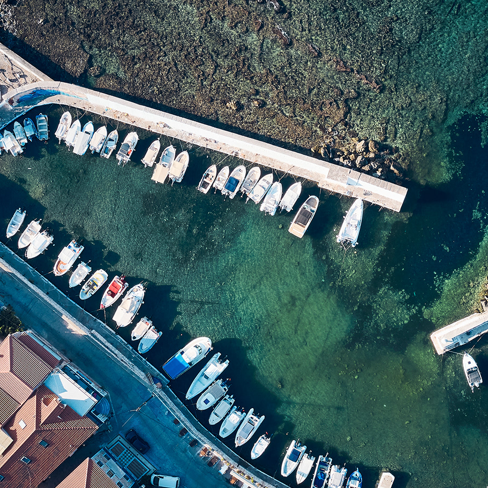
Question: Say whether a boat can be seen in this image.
Yes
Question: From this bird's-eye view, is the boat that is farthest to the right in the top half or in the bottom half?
bottom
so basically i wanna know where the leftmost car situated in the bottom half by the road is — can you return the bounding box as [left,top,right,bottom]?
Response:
[124,427,153,456]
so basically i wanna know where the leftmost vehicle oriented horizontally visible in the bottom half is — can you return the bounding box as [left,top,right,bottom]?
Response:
[150,473,182,488]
